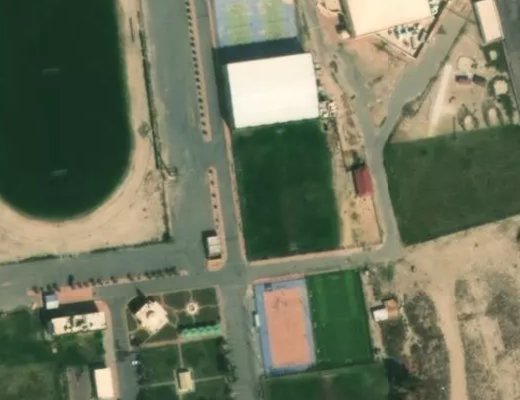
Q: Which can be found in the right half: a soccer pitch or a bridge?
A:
soccer pitch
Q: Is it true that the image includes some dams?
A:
No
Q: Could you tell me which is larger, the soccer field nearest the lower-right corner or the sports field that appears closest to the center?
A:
the sports field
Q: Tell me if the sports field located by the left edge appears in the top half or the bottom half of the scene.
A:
top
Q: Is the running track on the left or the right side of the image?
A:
left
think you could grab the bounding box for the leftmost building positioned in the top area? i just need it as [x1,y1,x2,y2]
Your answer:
[223,52,320,128]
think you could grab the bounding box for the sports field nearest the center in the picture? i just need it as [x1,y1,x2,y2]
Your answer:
[232,116,341,258]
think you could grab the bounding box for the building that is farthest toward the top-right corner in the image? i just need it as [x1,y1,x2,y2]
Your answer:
[473,0,503,42]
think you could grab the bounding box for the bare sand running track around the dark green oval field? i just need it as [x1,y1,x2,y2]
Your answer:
[0,0,152,243]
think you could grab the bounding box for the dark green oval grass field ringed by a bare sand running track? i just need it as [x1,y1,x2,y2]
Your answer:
[0,0,131,221]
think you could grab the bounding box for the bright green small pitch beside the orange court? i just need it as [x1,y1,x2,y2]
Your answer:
[306,269,372,370]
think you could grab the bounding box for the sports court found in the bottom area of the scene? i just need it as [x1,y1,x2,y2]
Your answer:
[256,278,316,376]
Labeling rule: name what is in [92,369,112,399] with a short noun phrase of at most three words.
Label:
building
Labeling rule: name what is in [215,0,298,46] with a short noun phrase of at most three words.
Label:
sports court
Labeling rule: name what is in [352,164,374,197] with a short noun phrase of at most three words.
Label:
shed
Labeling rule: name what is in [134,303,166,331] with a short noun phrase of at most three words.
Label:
building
